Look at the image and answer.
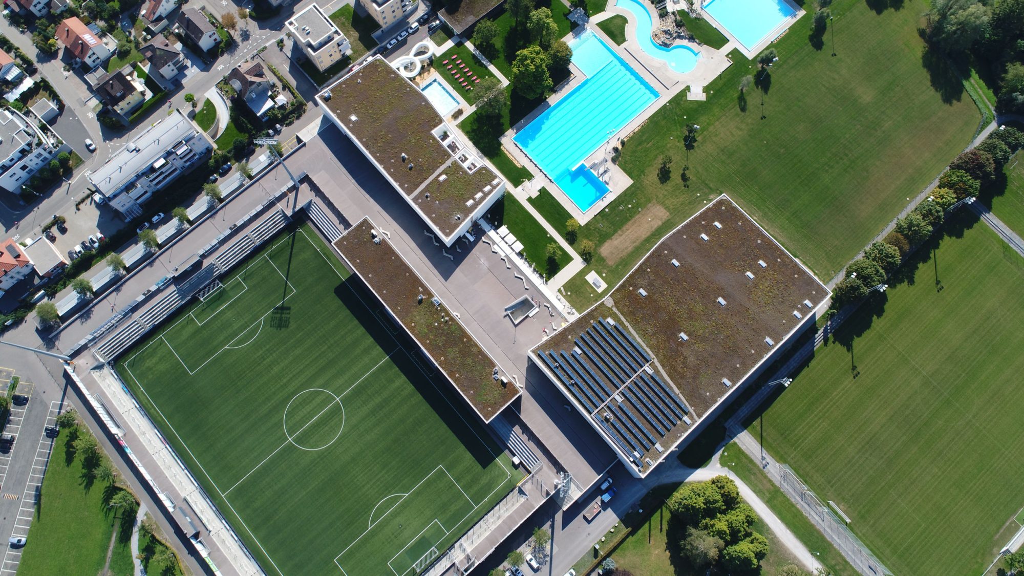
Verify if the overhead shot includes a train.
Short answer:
No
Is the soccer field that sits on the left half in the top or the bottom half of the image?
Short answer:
bottom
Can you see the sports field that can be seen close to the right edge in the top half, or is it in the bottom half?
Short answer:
bottom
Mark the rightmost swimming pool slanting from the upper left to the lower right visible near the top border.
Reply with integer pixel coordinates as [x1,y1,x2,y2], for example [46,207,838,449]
[614,0,699,74]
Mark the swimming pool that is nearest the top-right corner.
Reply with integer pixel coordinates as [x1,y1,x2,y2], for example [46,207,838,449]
[701,0,798,51]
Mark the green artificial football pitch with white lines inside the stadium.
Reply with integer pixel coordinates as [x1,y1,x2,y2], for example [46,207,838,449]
[111,216,527,576]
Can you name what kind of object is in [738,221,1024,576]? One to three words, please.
sports field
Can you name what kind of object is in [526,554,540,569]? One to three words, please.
car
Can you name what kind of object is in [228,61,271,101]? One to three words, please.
house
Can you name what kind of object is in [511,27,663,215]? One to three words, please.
swimming pool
